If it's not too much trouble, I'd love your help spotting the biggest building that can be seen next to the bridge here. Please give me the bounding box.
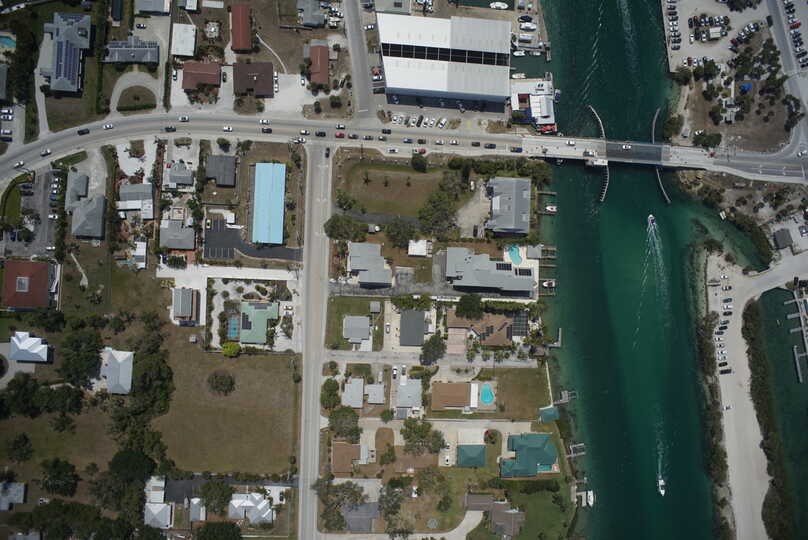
[377,13,511,104]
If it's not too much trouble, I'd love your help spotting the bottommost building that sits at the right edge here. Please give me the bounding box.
[768,230,793,249]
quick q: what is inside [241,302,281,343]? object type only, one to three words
house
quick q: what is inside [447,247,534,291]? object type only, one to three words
house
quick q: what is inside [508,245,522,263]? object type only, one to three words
swimming pool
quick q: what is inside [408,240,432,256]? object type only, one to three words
building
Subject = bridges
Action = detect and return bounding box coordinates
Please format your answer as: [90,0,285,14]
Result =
[522,135,718,167]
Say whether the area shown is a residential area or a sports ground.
residential area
